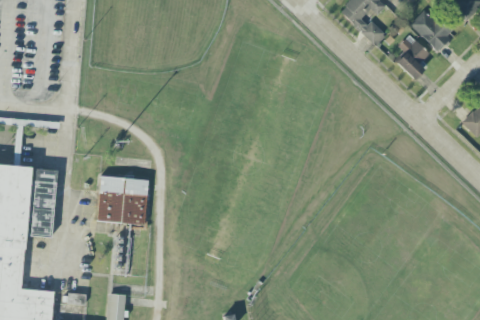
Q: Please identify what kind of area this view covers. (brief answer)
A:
sports ground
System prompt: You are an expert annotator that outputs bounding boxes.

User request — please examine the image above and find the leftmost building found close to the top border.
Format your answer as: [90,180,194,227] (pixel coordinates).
[341,0,390,46]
